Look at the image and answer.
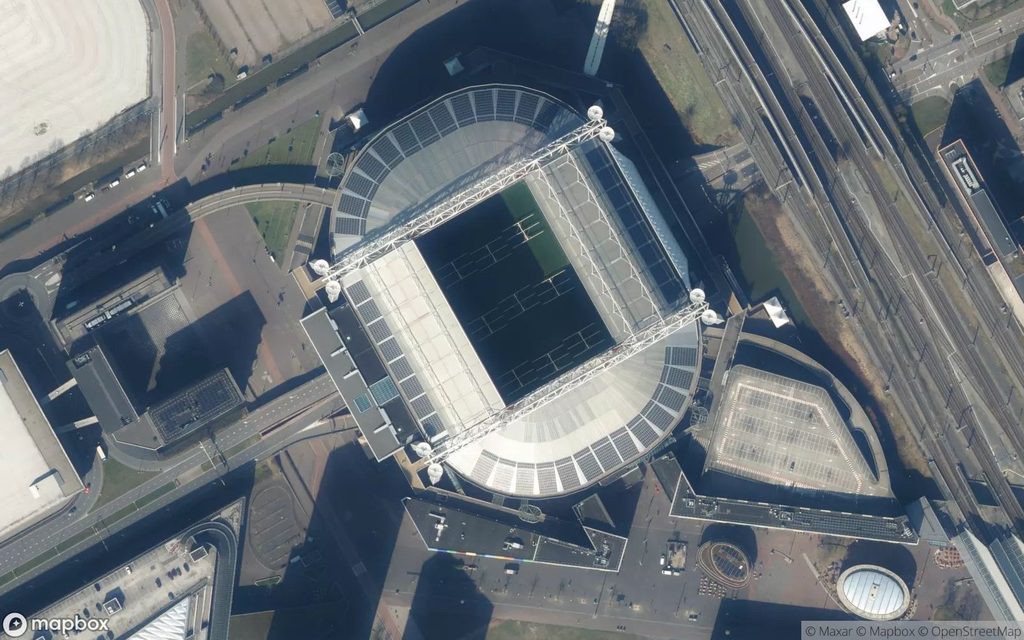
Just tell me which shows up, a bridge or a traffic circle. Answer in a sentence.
Of the two, only a bridge appears.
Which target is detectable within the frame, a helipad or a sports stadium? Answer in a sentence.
Of the two, only a sports stadium appears.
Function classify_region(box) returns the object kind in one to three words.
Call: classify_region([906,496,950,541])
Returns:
building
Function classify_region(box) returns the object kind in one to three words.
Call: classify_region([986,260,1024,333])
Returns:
building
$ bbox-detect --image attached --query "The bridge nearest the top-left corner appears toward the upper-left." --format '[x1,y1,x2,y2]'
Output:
[152,97,186,160]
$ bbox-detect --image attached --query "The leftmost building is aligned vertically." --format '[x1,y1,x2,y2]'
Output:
[0,349,84,538]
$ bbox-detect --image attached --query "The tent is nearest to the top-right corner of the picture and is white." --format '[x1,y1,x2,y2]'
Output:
[763,297,789,328]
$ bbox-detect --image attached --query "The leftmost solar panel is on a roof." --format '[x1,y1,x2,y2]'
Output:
[155,375,238,438]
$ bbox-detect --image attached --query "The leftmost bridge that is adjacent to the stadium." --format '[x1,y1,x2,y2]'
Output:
[42,179,337,285]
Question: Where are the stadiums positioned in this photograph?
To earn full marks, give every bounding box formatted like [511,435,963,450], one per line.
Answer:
[309,84,724,502]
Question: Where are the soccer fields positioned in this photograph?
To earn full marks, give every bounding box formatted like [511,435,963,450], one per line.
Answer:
[416,181,615,404]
